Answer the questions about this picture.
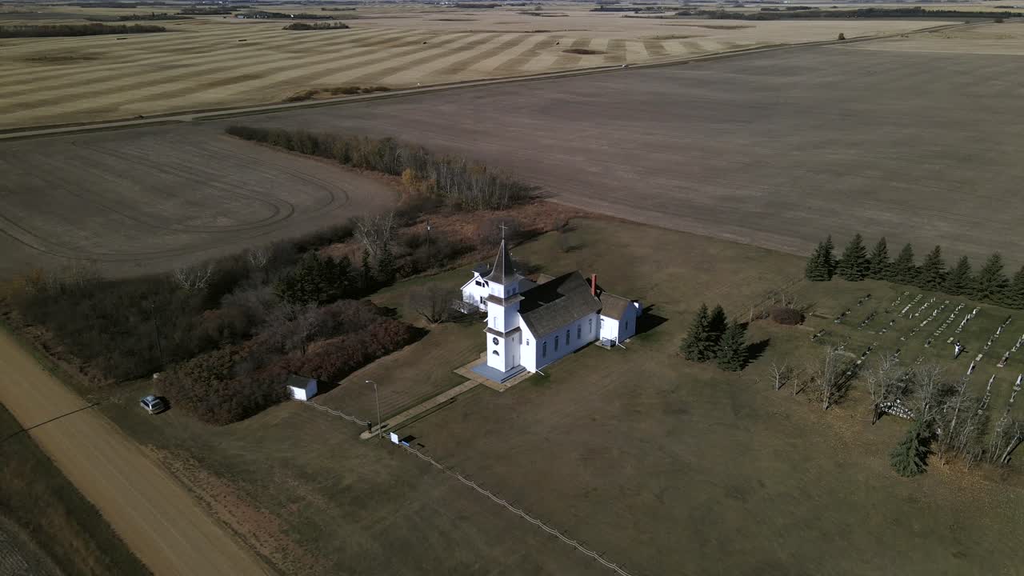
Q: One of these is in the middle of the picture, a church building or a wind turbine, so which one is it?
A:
church building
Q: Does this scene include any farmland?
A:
Yes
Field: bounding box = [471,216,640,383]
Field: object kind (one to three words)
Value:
church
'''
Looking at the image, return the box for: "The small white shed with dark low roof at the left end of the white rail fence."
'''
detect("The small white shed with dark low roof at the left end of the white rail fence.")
[289,375,320,402]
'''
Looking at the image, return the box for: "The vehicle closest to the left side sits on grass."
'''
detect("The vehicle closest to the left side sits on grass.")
[141,394,166,412]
